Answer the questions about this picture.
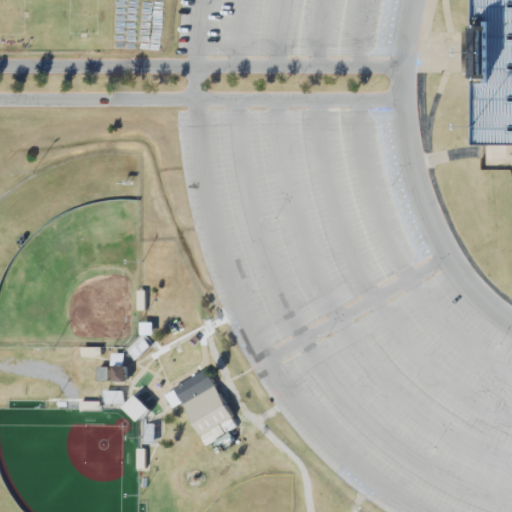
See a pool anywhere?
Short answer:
No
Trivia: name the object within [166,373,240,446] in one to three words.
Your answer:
building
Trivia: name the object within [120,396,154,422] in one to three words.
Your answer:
building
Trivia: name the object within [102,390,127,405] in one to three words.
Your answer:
shed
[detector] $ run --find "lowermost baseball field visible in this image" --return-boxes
[0,409,140,512]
